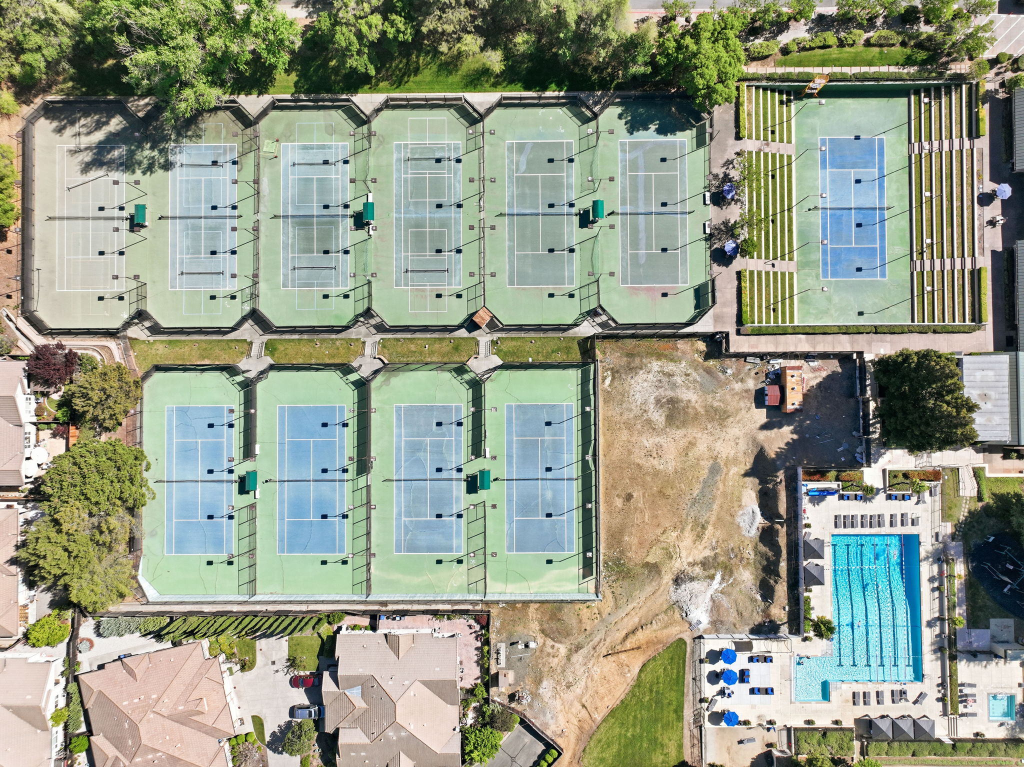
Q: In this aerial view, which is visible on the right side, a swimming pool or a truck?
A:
swimming pool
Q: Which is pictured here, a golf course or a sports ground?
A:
sports ground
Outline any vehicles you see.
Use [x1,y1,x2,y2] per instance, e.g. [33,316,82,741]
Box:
[292,705,323,722]
[290,676,320,692]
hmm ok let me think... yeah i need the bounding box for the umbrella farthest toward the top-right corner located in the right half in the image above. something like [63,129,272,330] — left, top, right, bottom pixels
[991,183,1011,199]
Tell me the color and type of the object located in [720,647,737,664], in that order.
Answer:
blue umbrella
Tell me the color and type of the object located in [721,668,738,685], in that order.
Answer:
blue umbrella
